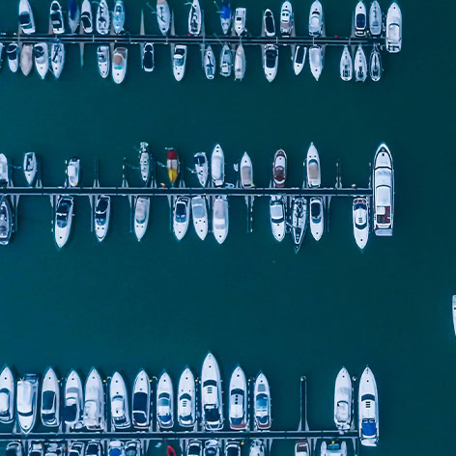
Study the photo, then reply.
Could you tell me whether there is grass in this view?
No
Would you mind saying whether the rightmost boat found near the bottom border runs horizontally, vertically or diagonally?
vertically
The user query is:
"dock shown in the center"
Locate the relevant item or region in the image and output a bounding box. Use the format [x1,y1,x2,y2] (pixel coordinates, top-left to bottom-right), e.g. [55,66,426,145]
[0,160,372,232]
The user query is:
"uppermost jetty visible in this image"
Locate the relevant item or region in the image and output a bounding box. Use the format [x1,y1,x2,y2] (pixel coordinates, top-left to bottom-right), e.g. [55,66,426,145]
[0,7,384,72]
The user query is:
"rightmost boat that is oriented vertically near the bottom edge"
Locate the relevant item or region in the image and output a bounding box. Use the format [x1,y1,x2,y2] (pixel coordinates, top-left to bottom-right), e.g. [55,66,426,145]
[358,365,379,448]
